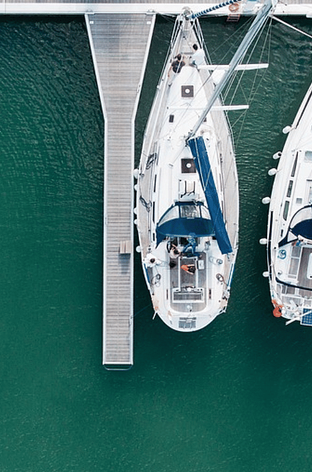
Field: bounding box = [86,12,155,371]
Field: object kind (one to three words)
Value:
pier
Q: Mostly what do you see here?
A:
water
